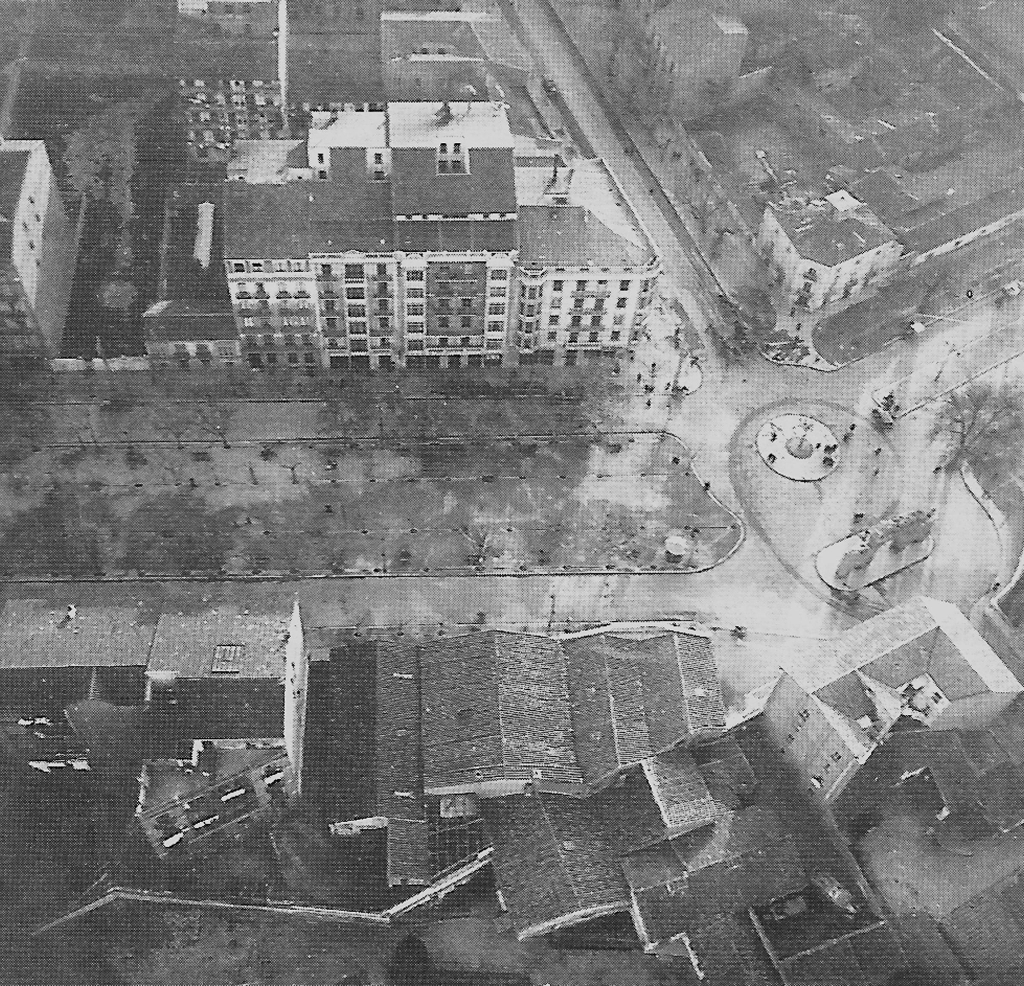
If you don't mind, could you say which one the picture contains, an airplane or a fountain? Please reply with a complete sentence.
Of the two, only a fountain appears.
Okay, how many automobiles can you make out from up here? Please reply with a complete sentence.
I count no automobiles.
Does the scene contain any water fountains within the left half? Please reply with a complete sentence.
No, looking within the left half, there is no water fountain.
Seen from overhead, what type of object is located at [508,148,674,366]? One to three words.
building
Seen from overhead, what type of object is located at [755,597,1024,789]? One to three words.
building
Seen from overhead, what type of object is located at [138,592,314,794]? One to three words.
house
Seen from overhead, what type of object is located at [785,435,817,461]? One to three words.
fountain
